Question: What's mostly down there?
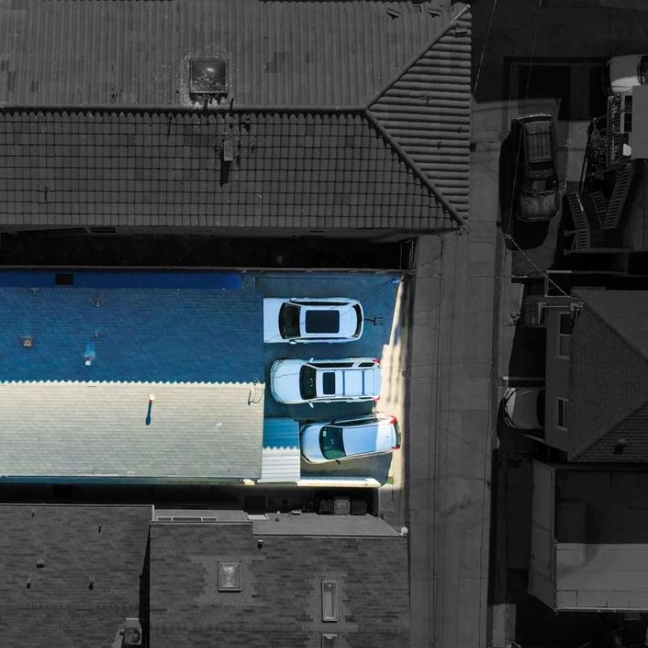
buildings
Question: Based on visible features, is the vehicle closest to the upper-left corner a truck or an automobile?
automobile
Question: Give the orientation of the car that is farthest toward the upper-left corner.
from left to right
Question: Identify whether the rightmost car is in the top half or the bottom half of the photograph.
top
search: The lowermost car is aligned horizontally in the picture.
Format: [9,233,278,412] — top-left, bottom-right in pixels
[300,411,404,465]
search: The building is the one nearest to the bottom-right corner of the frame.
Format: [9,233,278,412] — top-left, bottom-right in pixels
[529,463,648,611]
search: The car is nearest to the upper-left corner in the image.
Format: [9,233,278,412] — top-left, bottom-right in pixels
[262,293,365,346]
